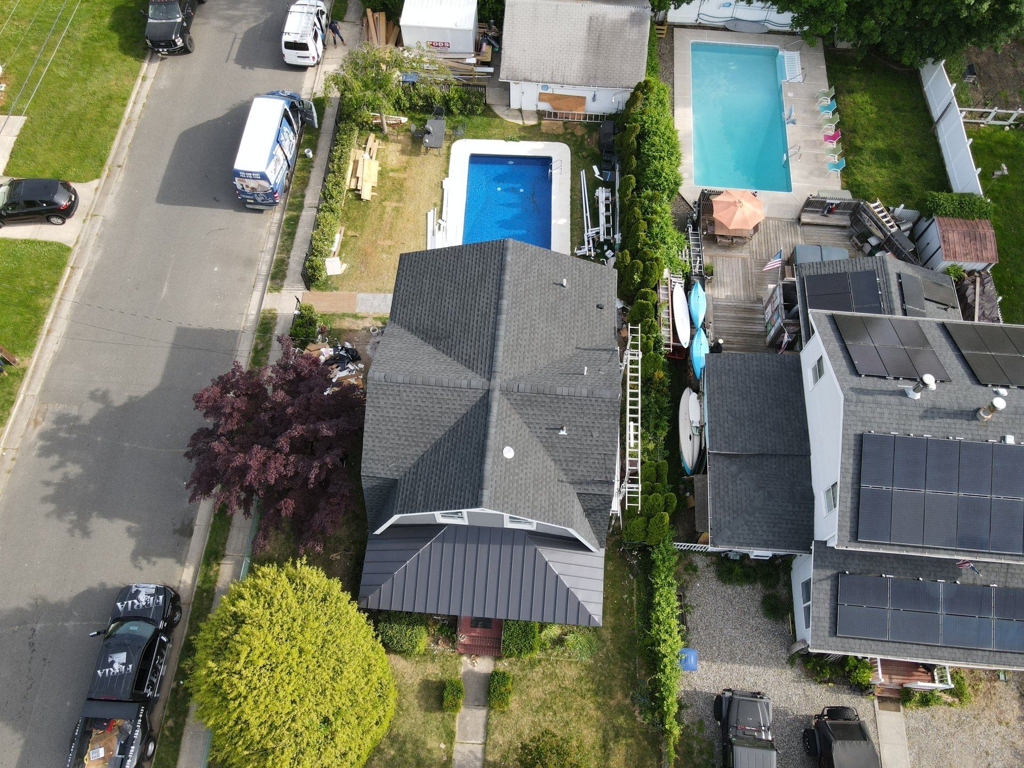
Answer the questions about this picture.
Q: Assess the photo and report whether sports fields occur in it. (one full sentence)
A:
No, there appears to be no sports field in this shot.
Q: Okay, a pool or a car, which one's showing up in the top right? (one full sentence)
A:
The one visible in the top right is a pool.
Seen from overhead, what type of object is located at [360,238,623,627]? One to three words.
house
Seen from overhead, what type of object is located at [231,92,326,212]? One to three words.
van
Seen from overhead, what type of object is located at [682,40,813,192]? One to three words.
swimming pool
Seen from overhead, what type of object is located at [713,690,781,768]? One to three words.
car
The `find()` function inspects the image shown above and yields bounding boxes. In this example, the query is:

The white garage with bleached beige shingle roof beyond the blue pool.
[499,0,641,115]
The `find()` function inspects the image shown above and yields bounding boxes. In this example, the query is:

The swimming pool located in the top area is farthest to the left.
[449,140,570,256]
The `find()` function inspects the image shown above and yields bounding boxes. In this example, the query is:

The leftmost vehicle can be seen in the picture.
[0,179,82,230]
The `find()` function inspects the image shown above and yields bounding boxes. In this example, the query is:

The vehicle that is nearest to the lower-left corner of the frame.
[67,582,180,768]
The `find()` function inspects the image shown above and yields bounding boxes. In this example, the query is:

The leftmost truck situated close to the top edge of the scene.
[150,0,219,55]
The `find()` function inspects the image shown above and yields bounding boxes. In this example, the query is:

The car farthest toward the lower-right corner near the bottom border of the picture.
[806,706,875,768]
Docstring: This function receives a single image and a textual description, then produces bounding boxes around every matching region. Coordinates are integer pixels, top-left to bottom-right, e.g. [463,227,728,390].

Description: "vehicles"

[283,0,336,72]
[150,0,219,55]
[67,582,180,768]
[0,179,82,230]
[231,92,326,212]
[806,706,875,768]
[713,690,781,768]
